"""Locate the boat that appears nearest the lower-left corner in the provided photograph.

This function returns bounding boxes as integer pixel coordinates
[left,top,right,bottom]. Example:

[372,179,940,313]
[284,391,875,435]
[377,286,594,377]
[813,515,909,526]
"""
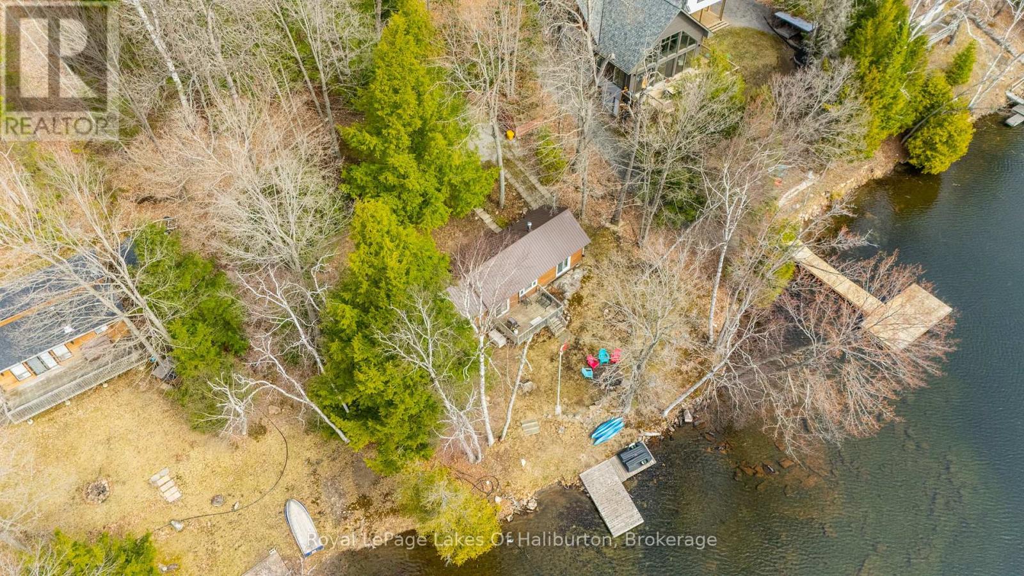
[285,496,319,554]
